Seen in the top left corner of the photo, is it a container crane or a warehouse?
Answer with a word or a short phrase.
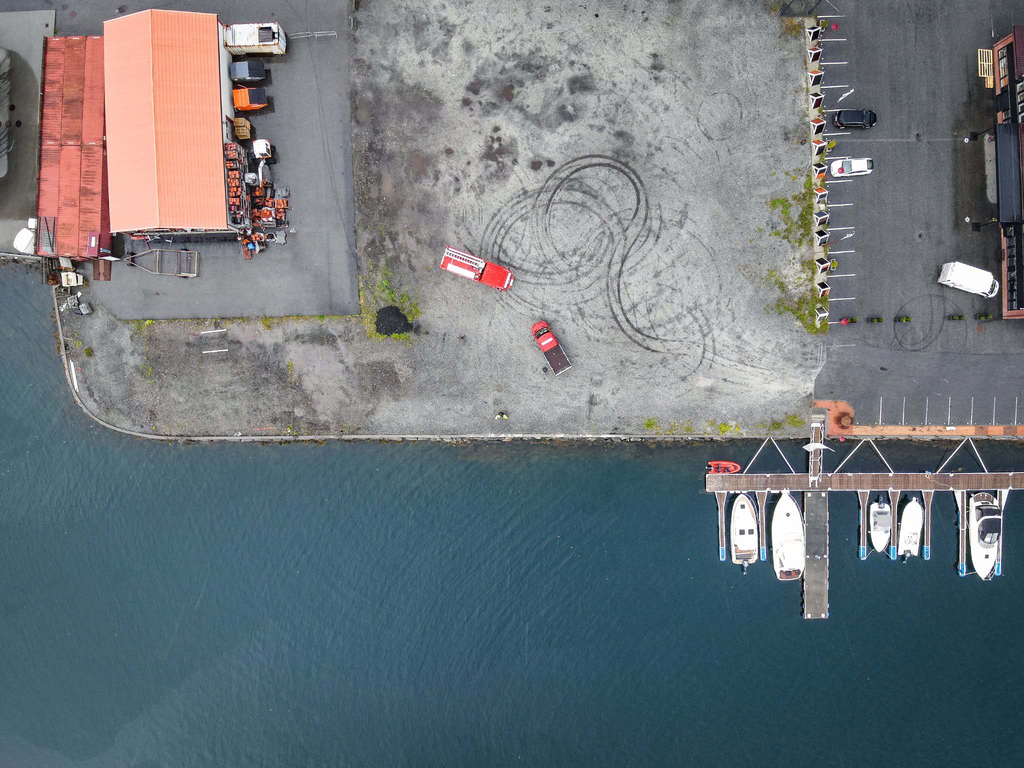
warehouse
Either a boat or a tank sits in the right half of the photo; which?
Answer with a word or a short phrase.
boat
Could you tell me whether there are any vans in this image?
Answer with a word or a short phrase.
Yes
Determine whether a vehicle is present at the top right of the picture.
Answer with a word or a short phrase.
Yes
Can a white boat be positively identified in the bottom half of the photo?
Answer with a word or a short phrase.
Yes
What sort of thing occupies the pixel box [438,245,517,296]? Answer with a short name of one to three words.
truck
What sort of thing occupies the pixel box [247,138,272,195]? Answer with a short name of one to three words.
work vehicle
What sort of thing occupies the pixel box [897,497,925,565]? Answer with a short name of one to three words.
boat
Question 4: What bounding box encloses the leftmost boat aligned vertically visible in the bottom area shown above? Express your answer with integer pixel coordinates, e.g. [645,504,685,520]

[729,495,758,573]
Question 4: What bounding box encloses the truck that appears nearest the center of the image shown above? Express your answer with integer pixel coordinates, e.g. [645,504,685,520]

[531,321,574,378]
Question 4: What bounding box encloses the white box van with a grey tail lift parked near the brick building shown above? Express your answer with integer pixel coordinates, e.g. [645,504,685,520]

[926,261,1000,301]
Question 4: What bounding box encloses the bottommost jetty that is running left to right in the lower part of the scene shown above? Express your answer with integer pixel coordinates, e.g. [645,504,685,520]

[706,472,1024,492]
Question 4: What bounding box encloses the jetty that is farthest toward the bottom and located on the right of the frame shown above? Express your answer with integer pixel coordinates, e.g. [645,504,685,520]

[800,490,830,618]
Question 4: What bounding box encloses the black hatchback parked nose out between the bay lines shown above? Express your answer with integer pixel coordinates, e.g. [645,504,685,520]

[835,106,879,128]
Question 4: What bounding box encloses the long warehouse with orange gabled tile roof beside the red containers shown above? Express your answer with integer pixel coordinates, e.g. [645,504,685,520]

[102,7,242,239]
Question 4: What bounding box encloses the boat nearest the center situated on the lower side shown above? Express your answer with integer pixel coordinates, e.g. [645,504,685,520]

[702,461,741,473]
